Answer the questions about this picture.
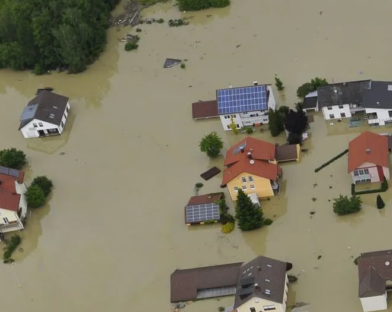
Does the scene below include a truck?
No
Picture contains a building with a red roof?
Yes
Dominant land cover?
water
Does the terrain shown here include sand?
No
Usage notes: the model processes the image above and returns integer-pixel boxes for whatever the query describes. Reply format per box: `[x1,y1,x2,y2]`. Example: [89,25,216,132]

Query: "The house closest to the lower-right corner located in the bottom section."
[359,250,392,311]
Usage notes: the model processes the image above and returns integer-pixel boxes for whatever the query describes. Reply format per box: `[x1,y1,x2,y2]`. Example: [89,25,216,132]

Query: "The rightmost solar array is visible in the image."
[217,86,266,115]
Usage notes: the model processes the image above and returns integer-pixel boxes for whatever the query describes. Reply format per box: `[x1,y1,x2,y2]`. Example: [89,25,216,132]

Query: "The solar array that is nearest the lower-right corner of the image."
[186,202,219,223]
